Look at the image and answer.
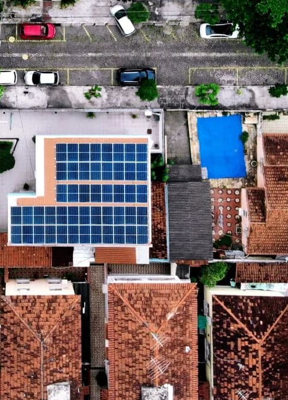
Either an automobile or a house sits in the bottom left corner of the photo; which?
house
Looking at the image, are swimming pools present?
Yes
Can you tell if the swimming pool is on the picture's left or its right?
right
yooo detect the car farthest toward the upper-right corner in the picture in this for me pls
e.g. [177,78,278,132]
[200,22,238,40]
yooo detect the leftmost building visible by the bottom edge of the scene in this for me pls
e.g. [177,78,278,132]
[0,284,81,400]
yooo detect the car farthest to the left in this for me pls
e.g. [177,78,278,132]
[0,70,20,87]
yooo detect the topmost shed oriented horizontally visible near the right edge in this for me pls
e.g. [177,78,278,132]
[229,256,288,283]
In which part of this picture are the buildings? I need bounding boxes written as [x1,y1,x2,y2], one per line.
[8,132,150,246]
[104,277,199,400]
[0,284,81,400]
[234,134,288,255]
[165,179,213,261]
[201,284,288,400]
[229,256,288,283]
